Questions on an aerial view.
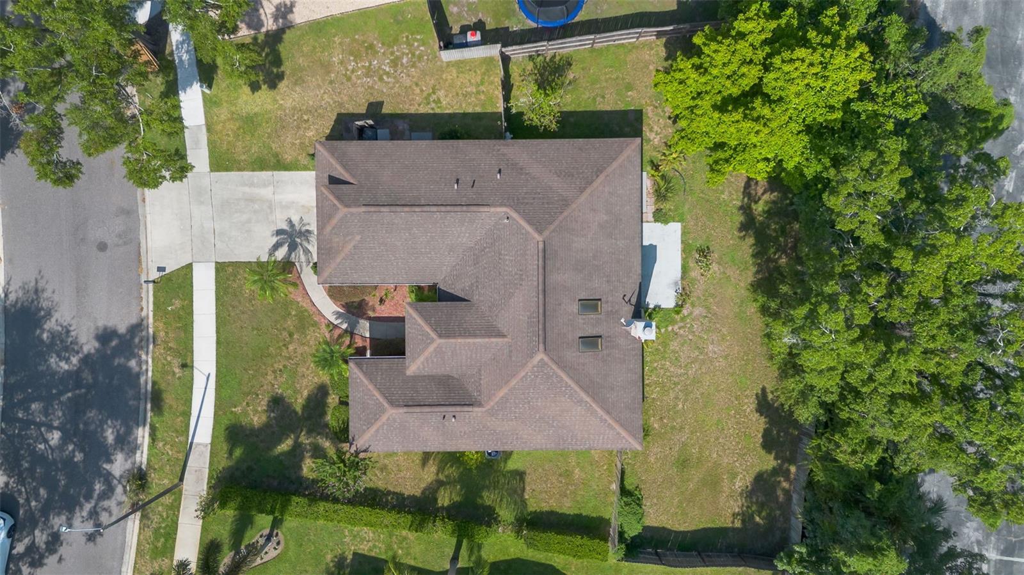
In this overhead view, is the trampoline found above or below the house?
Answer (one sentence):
Looking at the photo, you'll find the trampoline above the house.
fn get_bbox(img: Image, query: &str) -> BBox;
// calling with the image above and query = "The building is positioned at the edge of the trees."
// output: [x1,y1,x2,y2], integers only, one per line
[315,137,656,452]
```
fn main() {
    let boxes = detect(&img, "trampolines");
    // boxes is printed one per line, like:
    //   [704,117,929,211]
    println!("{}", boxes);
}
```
[517,0,584,31]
